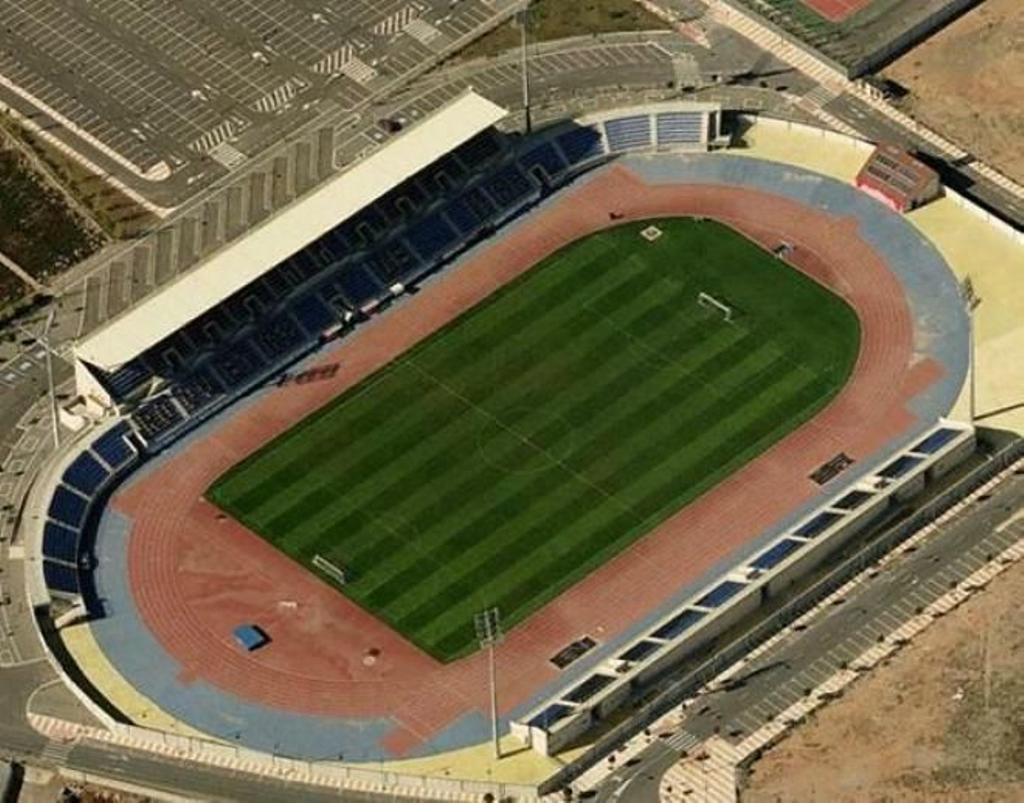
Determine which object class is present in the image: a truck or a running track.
running track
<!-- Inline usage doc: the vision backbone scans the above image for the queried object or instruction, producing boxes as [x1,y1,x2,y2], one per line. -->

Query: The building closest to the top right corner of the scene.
[852,143,938,216]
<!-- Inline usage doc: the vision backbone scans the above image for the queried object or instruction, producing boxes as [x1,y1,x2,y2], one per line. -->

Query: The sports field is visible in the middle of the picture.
[204,214,857,662]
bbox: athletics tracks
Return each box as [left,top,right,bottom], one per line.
[126,178,918,715]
